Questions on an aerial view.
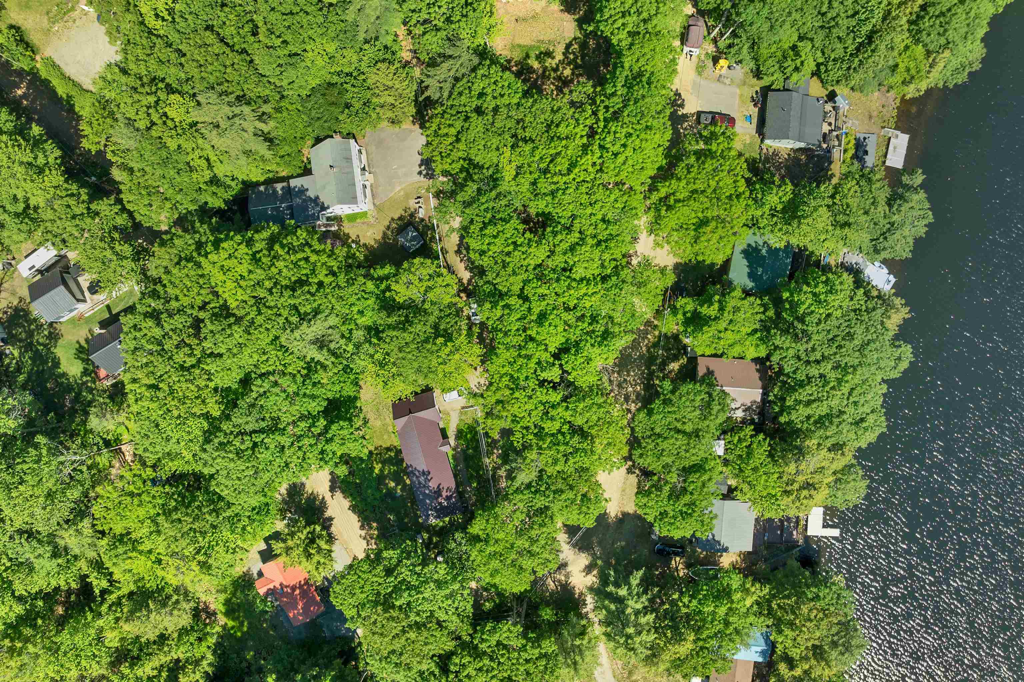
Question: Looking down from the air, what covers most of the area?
trees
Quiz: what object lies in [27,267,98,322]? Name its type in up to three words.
house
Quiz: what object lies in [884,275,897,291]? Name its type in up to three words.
boat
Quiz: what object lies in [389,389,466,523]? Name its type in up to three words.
house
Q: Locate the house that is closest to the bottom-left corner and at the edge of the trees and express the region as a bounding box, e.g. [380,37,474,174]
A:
[256,550,330,626]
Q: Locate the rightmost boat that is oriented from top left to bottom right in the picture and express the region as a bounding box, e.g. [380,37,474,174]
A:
[872,260,889,274]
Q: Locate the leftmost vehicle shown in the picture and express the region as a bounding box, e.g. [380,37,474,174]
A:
[17,244,67,280]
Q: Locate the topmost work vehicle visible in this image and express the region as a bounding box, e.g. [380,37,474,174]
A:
[711,58,729,77]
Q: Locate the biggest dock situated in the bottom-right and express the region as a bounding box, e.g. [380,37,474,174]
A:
[807,507,841,539]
